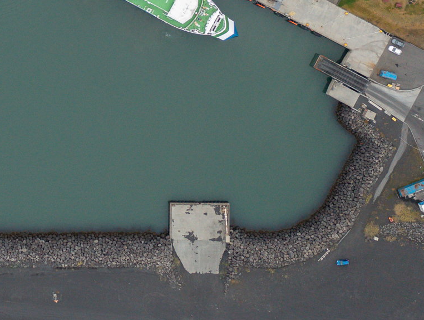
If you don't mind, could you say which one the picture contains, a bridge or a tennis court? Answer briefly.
bridge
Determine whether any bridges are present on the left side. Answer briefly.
No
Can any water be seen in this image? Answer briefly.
Yes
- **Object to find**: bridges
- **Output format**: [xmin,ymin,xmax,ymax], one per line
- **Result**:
[305,52,370,94]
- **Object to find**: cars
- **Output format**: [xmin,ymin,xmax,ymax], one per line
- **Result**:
[388,45,402,56]
[390,38,404,49]
[336,259,350,266]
